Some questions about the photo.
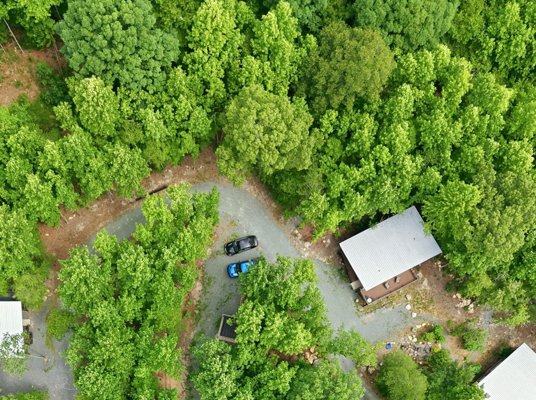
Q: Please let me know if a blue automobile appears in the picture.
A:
Yes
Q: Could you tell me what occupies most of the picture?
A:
trees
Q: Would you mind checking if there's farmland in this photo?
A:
No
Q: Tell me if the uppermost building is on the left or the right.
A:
right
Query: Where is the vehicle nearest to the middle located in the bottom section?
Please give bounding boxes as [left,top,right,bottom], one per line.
[223,235,260,257]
